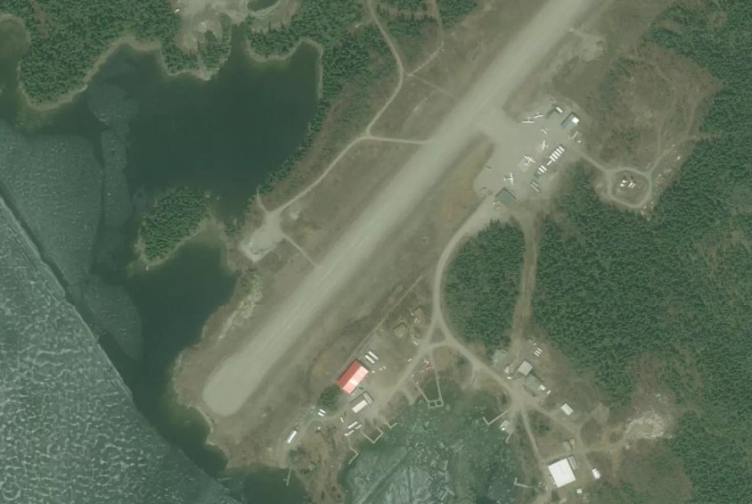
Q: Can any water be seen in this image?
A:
Yes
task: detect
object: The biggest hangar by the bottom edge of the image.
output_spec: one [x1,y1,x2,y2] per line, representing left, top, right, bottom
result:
[548,458,576,488]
